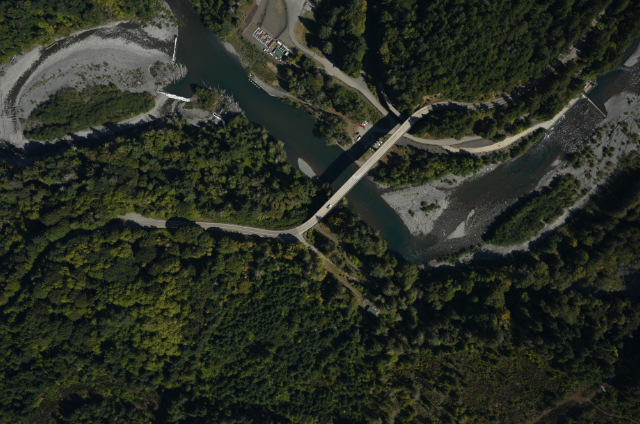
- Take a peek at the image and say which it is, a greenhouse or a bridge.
bridge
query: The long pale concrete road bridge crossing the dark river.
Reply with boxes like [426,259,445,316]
[315,114,418,218]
